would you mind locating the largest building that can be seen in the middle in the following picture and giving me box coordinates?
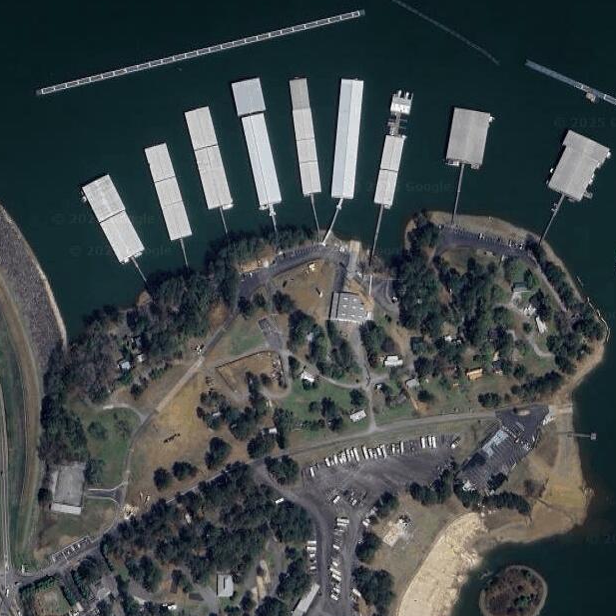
[330,292,365,323]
